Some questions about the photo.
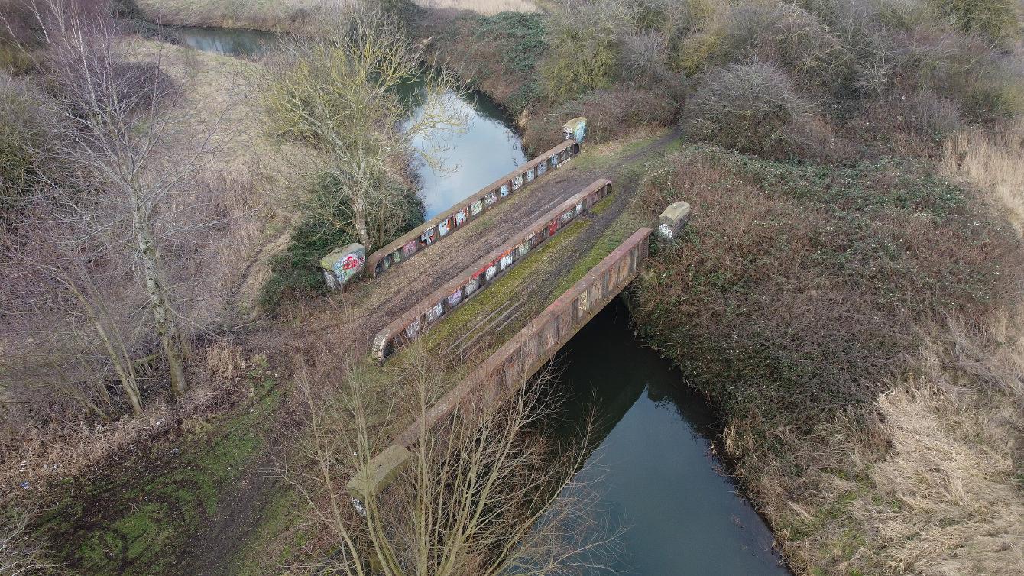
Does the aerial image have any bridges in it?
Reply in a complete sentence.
Yes, there's a bridge down there.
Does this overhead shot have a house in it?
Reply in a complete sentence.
No, I can see no house in this picture.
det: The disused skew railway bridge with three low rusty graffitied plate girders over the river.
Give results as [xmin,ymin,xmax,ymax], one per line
[358,142,653,485]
